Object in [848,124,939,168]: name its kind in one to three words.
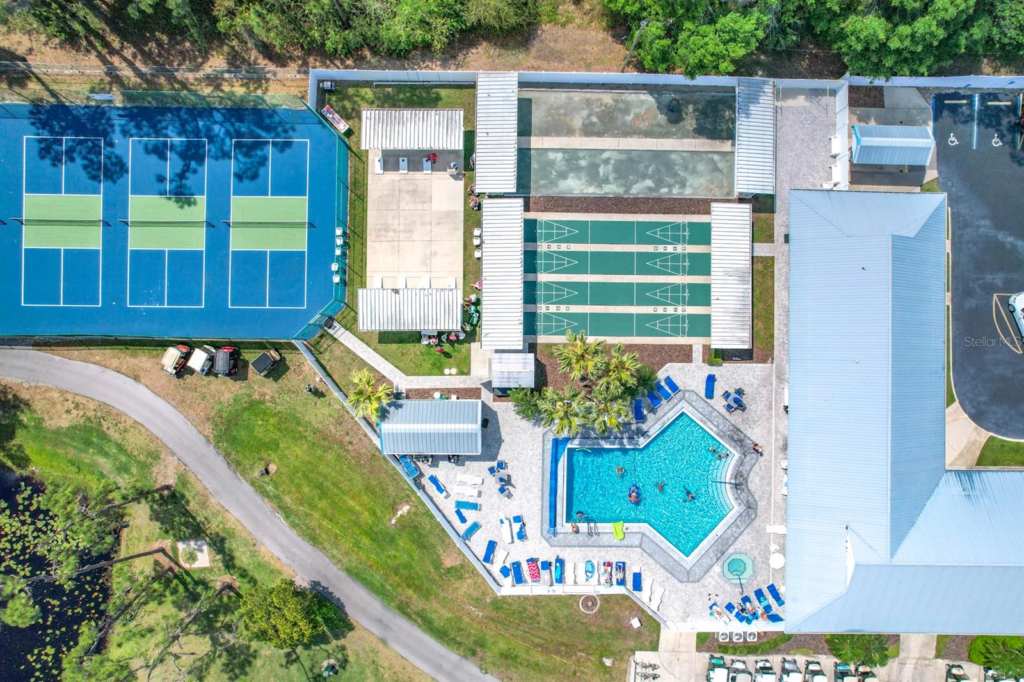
building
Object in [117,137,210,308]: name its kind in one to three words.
sports court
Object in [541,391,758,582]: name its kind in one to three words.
swimming pool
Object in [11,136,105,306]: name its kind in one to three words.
sports court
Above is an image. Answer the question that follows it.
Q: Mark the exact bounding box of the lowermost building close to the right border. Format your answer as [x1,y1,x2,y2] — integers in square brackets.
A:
[779,190,1024,637]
